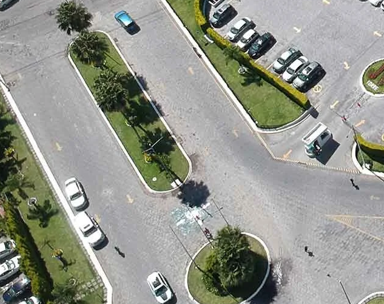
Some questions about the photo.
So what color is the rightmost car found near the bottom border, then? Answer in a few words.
white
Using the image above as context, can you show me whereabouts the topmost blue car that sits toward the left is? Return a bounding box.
[116,11,136,33]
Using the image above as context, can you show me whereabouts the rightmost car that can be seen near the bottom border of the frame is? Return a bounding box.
[146,269,174,304]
